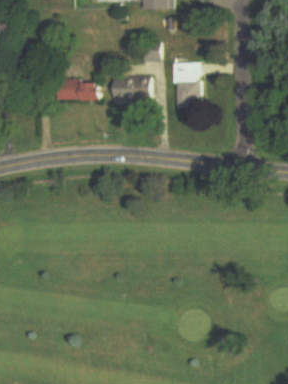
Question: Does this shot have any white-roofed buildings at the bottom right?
No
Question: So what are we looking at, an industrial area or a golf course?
golf course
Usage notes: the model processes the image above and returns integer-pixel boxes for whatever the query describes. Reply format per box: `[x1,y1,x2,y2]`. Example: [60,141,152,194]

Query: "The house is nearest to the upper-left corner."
[57,78,102,101]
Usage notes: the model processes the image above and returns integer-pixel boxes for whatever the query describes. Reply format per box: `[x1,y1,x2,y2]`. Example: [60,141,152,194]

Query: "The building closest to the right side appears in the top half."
[174,57,204,109]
